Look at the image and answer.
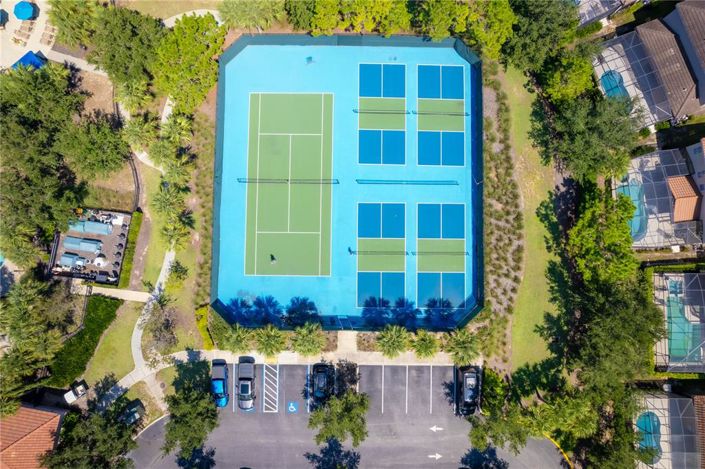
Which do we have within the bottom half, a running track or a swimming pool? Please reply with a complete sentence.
What appears within the bottom half is a swimming pool.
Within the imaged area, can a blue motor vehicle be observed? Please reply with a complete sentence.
Yes, looking at the shot, I can spot a blue motor vehicle.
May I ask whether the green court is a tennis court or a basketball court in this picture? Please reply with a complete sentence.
Specifically, the green court is a tennis court.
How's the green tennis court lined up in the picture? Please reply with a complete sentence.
In this picture, the green tennis court lies from top to bottom.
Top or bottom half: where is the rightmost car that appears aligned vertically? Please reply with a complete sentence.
The rightmost car that appears aligned vertically sits in the bottom half of the picture.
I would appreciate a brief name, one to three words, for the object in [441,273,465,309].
sports court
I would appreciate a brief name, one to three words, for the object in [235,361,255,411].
vehicle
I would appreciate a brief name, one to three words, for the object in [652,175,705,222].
house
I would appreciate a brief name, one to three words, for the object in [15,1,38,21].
umbrella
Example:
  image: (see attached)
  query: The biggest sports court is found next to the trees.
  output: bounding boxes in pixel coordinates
[218,45,477,328]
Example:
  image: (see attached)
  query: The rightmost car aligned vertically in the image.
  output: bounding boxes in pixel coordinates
[458,368,478,414]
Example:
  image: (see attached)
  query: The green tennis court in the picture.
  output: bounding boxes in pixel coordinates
[244,92,333,276]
